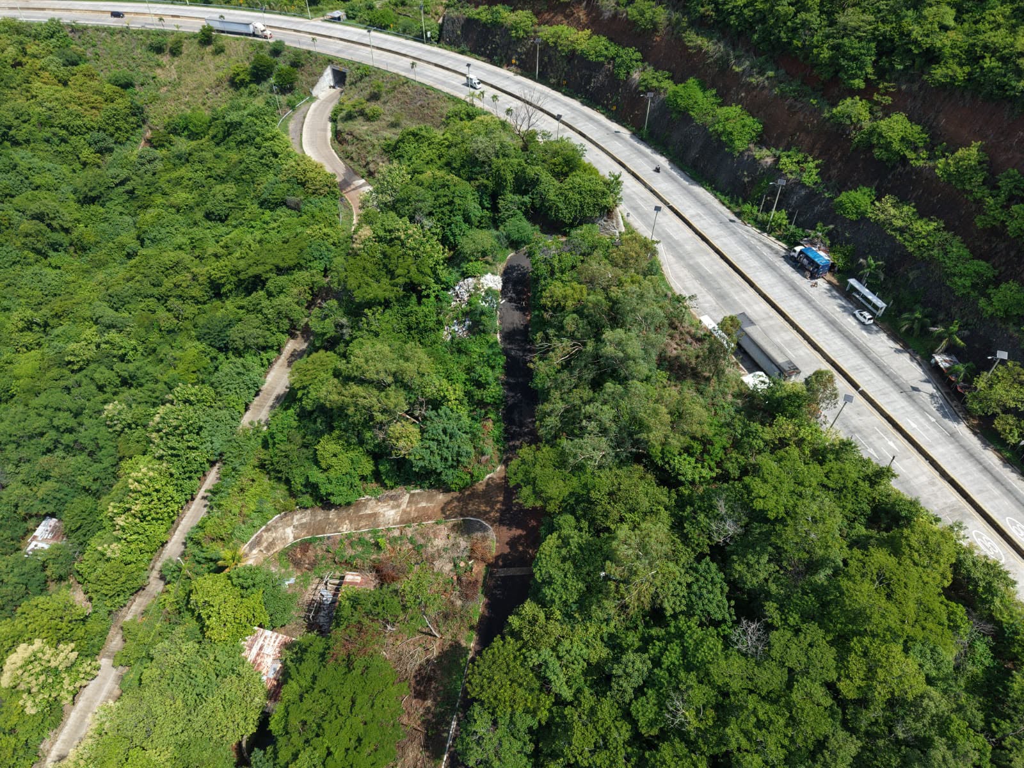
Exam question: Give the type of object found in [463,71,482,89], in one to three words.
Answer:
vehicle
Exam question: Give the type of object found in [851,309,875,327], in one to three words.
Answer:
car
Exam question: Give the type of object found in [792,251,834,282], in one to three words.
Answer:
truck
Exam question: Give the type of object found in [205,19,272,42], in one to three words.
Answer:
truck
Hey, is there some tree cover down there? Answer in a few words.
Yes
